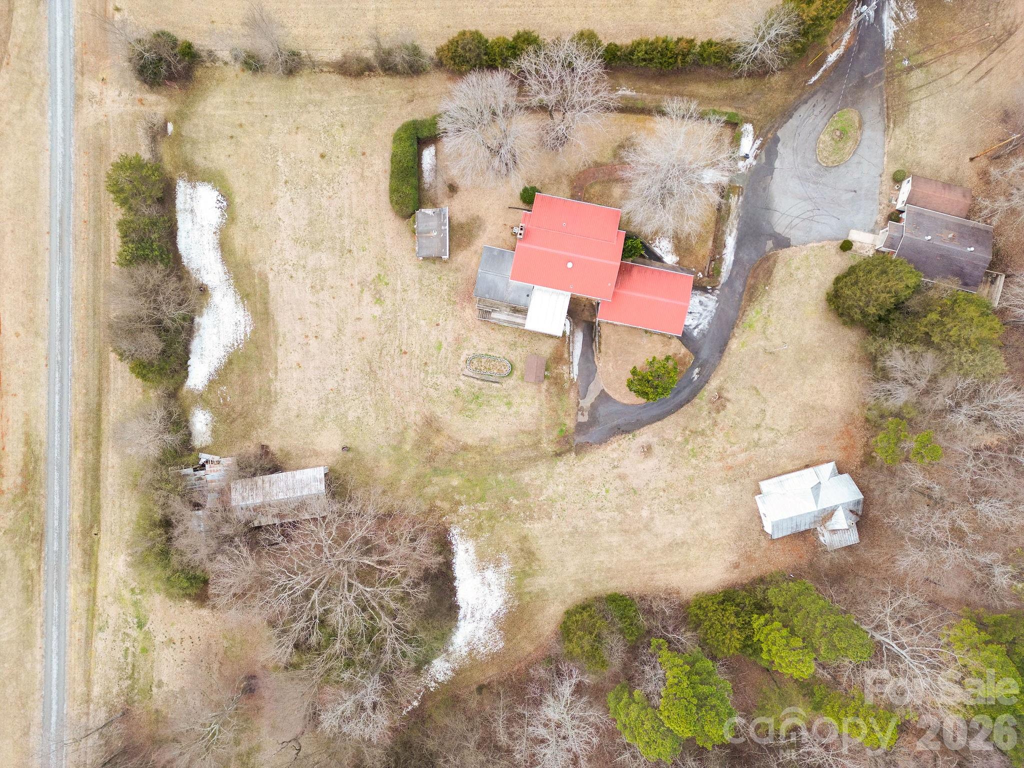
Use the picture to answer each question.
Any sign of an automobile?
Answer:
No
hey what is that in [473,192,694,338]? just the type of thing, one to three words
house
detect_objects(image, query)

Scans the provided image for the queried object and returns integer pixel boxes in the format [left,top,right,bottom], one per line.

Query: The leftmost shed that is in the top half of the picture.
[415,206,449,259]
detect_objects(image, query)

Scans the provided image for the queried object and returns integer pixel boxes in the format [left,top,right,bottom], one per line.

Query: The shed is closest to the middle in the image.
[524,354,546,383]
